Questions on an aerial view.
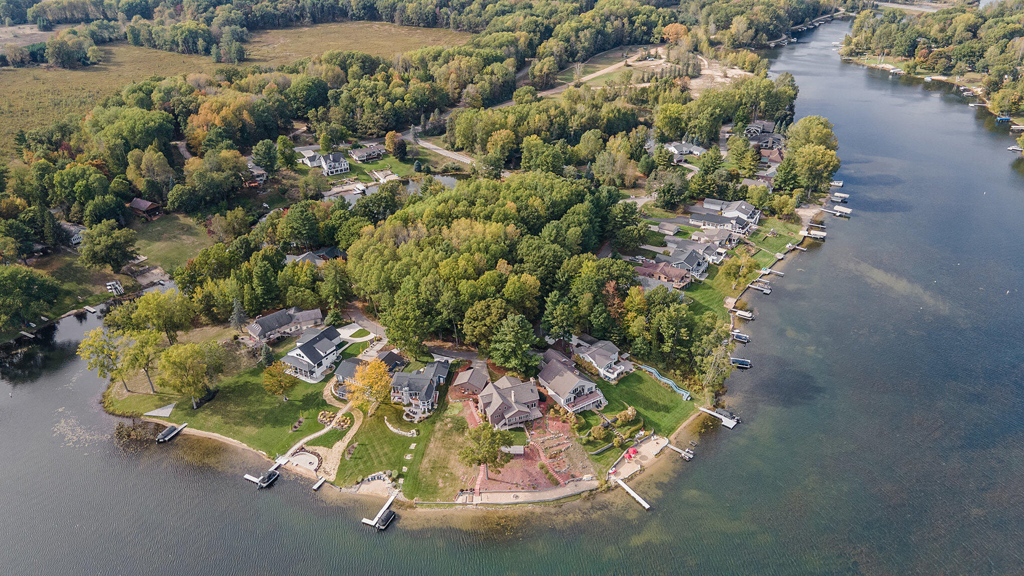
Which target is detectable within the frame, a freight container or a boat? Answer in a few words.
boat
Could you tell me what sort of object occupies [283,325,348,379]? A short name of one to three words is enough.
house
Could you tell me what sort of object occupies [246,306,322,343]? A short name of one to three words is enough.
house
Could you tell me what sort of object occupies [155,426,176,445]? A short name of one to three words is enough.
boat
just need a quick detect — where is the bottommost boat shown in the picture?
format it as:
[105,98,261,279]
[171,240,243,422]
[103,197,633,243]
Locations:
[377,510,396,529]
